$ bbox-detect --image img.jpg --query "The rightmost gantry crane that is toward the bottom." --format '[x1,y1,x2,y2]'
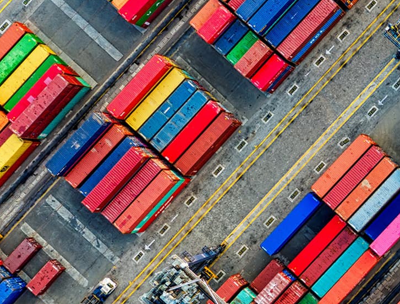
[135,231,251,304]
